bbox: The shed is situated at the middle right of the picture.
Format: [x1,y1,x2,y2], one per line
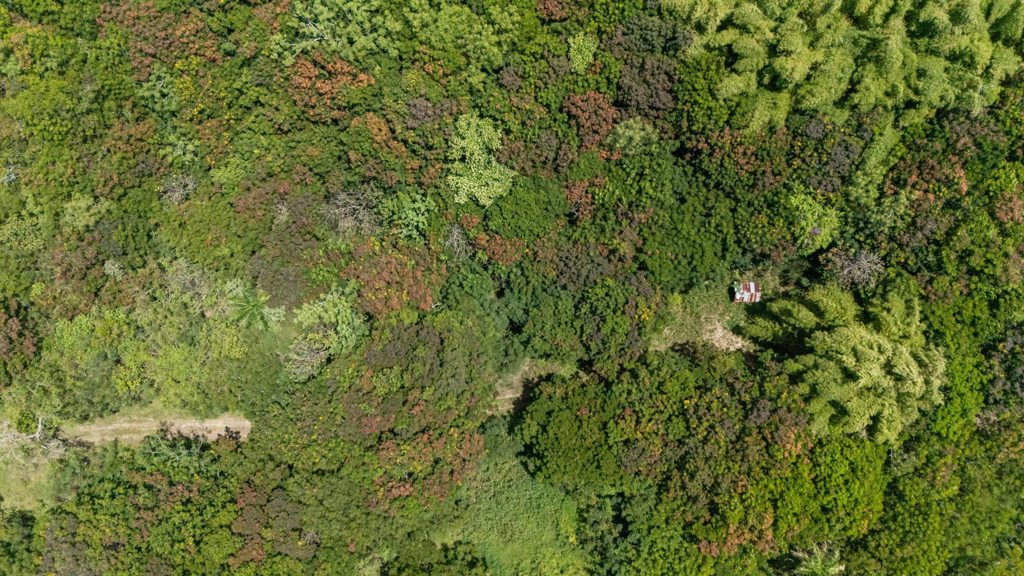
[730,282,761,302]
